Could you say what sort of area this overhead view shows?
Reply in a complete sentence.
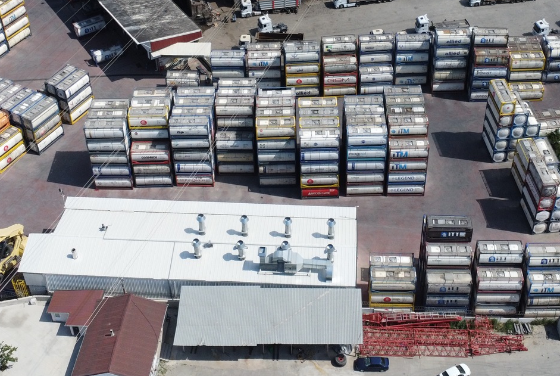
What you see here is an industrial area.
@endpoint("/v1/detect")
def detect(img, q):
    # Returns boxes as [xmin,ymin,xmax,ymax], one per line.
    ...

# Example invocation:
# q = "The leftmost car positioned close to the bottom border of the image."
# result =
[354,355,390,373]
